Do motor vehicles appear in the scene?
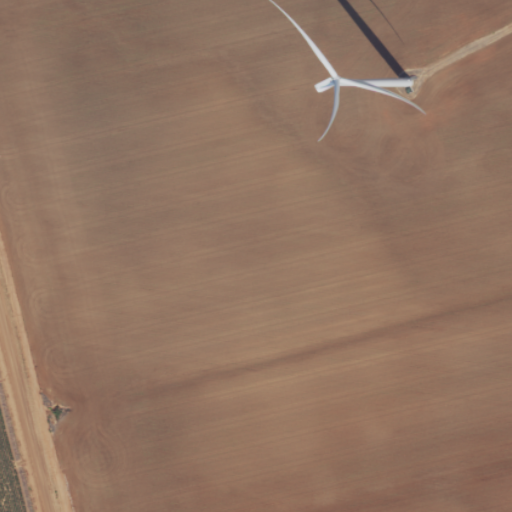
No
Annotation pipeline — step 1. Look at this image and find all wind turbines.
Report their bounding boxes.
[270,0,426,140]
